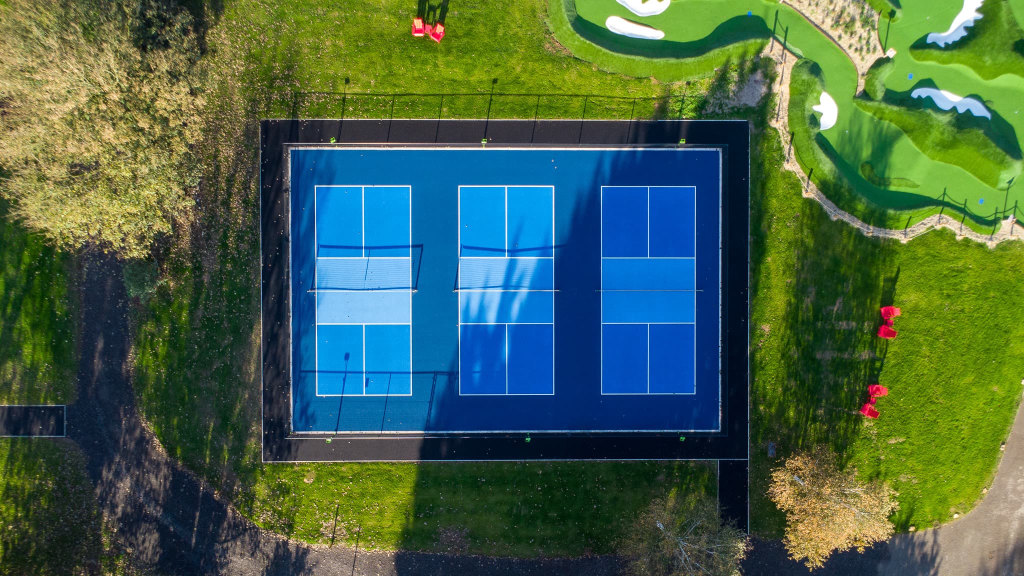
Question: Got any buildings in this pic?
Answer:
No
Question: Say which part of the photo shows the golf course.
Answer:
top right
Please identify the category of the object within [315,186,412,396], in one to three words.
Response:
sports court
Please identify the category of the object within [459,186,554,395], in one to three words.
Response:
sports court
